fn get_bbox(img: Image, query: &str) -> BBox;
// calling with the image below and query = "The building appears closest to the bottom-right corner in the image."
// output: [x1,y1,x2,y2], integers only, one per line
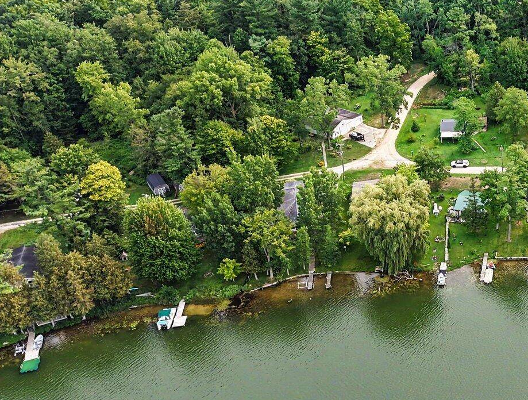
[447,187,482,224]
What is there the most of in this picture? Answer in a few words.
trees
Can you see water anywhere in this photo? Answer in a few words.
Yes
